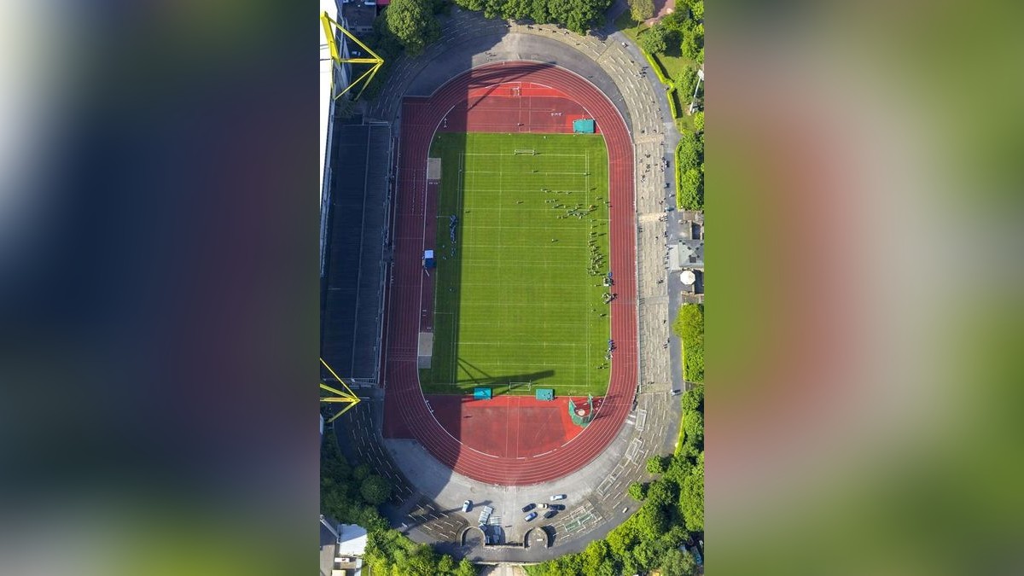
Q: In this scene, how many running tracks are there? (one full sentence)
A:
I count just 1 running track.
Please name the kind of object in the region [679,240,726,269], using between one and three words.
building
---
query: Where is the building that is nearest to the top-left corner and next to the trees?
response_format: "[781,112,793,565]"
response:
[341,0,379,37]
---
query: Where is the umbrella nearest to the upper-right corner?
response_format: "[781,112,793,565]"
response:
[680,271,694,284]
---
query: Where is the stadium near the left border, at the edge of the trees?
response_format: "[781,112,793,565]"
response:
[0,0,384,574]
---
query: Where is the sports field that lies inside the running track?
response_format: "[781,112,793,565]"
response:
[419,132,610,396]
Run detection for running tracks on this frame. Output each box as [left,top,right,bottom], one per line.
[380,59,638,486]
